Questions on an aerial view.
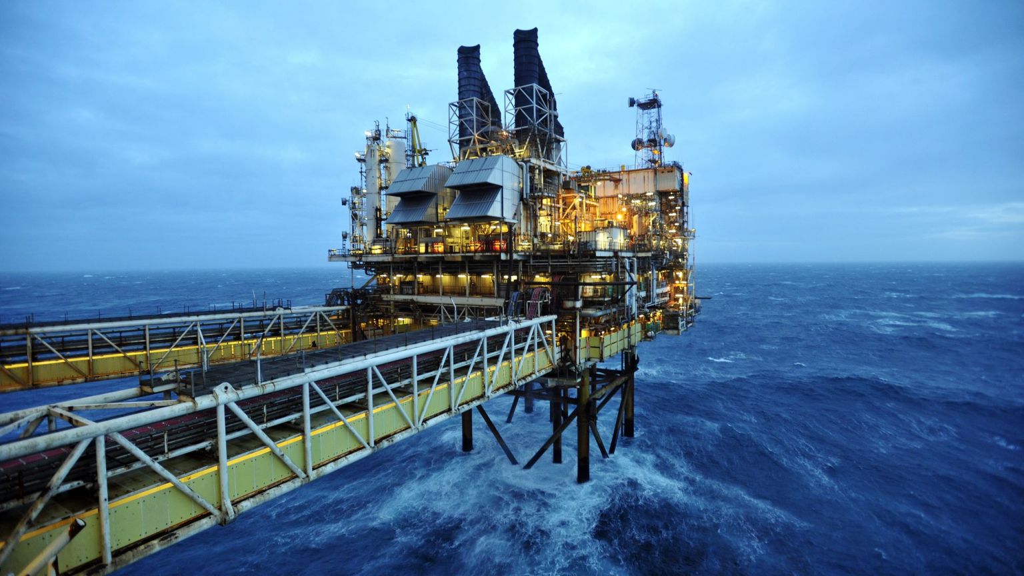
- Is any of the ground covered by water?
Yes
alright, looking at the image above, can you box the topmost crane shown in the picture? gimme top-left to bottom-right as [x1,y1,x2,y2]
[404,105,451,169]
